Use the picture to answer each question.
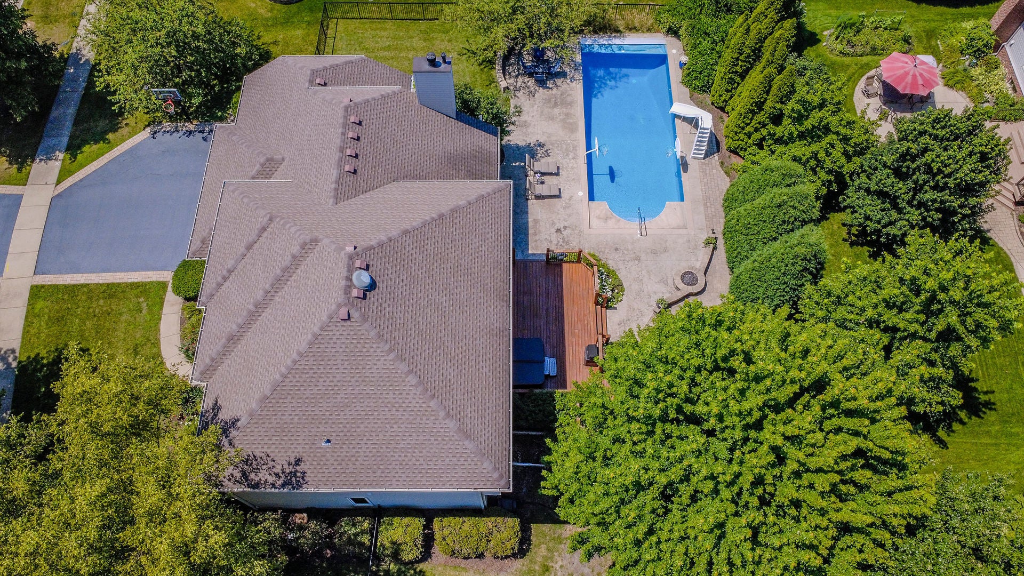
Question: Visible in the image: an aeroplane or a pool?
pool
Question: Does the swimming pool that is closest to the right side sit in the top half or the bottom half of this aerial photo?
top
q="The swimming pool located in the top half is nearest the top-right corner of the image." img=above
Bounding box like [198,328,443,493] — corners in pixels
[581,43,683,221]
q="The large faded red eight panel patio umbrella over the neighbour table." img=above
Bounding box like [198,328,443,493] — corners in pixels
[883,52,939,100]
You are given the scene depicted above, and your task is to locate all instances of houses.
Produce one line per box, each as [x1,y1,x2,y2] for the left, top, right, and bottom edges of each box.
[969,0,1024,103]
[185,49,514,507]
